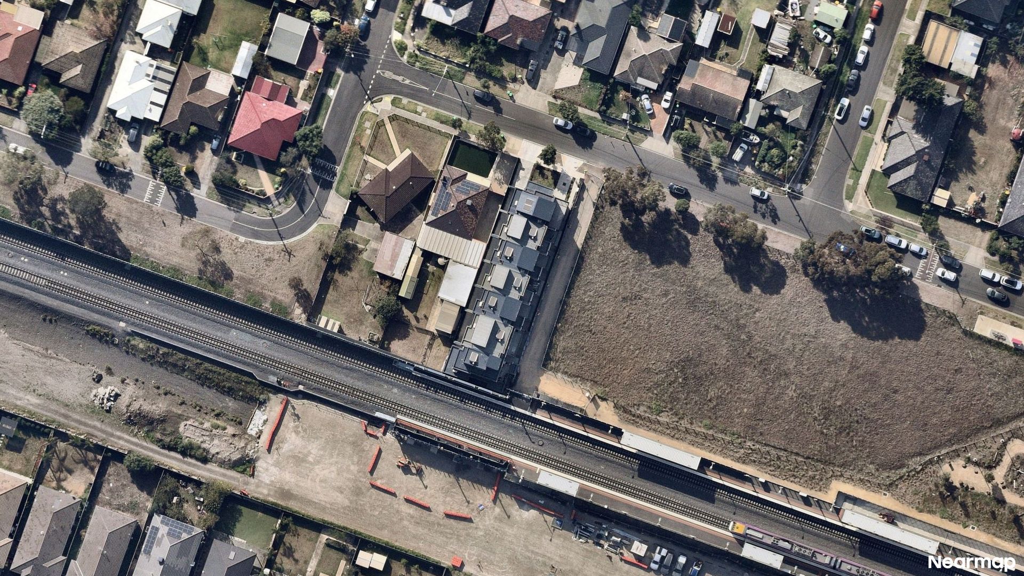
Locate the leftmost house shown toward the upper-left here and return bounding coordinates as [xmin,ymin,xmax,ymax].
[0,10,44,86]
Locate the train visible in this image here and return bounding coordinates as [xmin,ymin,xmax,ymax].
[729,519,894,576]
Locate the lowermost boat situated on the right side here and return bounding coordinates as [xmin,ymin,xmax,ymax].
[739,130,763,142]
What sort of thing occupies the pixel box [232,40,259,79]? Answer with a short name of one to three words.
shed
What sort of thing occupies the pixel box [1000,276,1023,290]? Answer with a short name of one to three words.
car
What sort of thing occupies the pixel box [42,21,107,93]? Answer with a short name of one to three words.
house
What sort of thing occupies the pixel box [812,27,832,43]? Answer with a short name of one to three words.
car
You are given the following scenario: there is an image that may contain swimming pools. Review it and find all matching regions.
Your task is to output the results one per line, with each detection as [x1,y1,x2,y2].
[446,139,500,179]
